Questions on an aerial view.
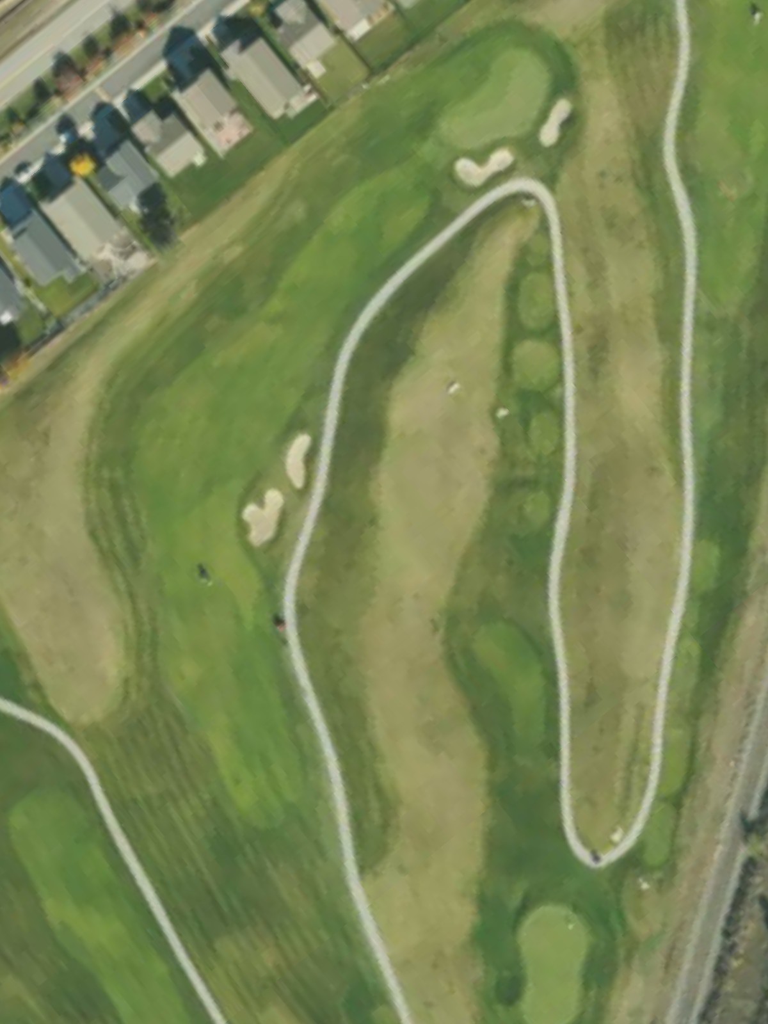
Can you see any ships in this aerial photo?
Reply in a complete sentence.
No, there isn't any ship down there.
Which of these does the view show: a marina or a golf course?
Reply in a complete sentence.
What you see here is a golf course.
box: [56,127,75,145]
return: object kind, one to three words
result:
vehicle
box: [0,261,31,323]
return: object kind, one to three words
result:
house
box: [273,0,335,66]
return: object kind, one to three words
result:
house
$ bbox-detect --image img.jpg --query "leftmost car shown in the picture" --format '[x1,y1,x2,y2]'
[17,163,36,180]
